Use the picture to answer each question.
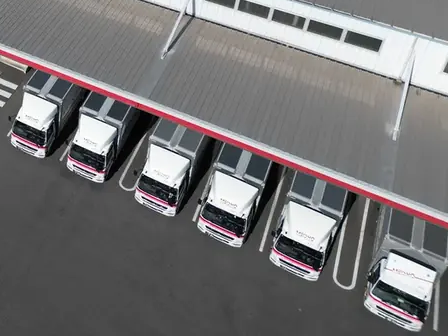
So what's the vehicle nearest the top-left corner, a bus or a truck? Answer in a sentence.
I'd say the vehicle nearest the top-left corner is a truck.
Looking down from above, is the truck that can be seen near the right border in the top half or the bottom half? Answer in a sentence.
The bottom half of the photo is where the truck that can be seen near the right border is.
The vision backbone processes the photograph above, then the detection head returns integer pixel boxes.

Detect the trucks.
[196,142,269,246]
[270,169,346,283]
[366,201,448,332]
[7,71,86,158]
[133,119,208,217]
[64,92,140,182]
